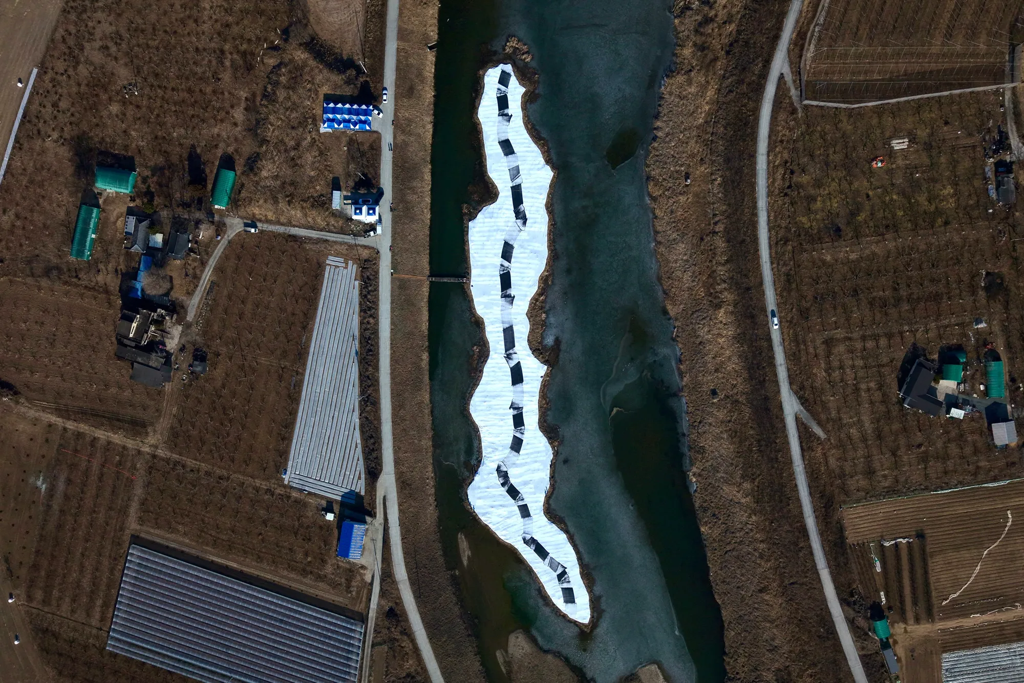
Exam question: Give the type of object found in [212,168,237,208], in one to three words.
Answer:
house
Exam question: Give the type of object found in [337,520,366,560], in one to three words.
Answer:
building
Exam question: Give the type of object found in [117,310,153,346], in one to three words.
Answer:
house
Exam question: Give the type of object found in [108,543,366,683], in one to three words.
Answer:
greenhouse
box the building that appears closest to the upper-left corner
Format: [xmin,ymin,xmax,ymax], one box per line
[92,168,138,194]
